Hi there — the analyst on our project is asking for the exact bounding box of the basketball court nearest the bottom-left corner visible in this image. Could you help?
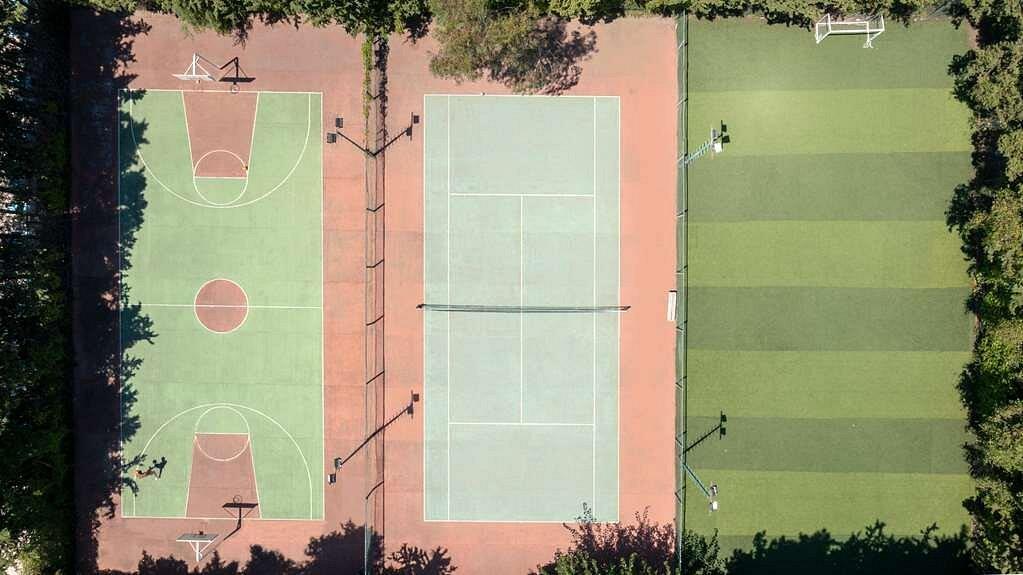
[119,91,323,519]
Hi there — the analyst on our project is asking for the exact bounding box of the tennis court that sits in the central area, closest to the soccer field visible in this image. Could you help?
[424,96,621,522]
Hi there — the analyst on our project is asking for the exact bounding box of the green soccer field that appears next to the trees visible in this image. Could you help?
[674,18,974,575]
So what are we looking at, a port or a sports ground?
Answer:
sports ground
